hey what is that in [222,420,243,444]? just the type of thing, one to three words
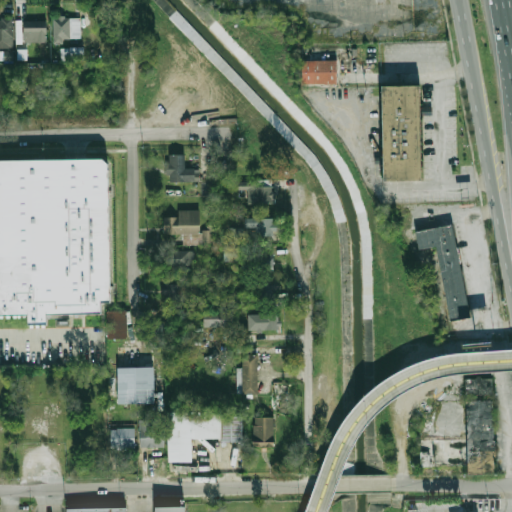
shed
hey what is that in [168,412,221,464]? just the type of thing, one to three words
building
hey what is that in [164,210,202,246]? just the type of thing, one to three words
house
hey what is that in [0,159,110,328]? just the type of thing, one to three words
building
